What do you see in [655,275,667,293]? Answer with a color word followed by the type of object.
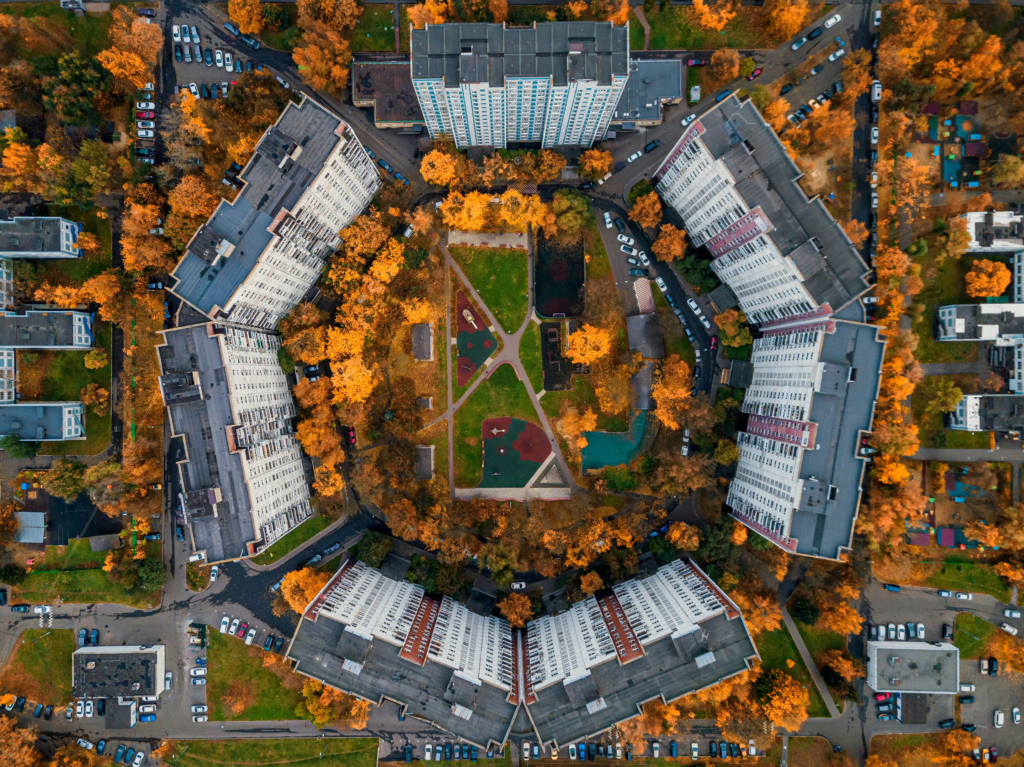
white vehicle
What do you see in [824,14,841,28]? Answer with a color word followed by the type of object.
white car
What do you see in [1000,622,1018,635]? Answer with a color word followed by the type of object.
white vehicle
